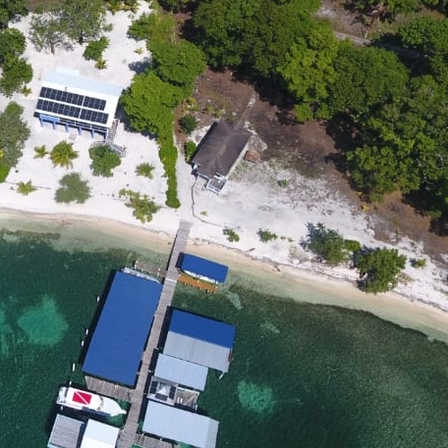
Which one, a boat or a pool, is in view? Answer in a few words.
boat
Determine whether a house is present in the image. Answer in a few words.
Yes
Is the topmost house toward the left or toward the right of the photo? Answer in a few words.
left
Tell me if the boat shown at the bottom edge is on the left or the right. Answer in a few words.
left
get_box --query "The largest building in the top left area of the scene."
[36,68,128,157]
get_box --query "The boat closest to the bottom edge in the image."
[56,386,126,428]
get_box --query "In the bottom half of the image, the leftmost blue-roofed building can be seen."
[84,271,163,392]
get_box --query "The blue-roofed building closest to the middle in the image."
[179,255,229,291]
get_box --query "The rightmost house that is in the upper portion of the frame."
[192,122,252,197]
